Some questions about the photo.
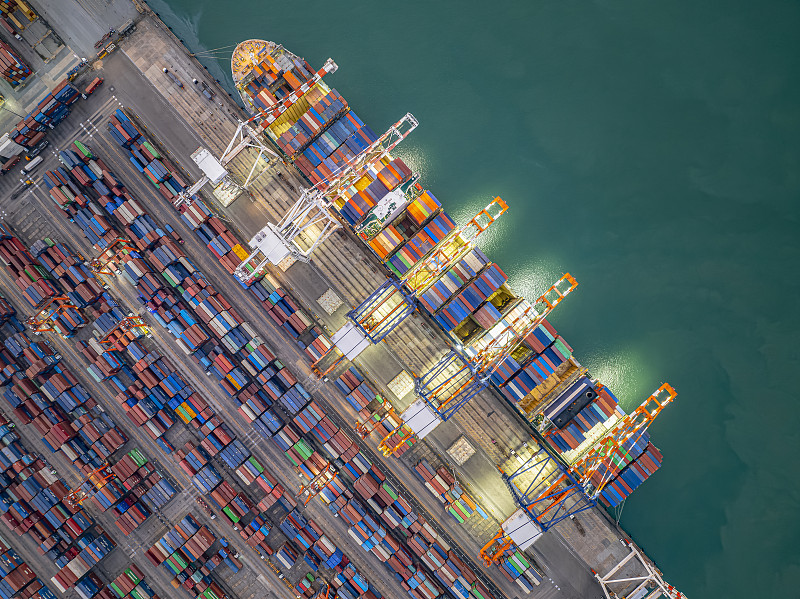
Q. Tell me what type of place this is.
port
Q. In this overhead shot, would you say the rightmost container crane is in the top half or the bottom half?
bottom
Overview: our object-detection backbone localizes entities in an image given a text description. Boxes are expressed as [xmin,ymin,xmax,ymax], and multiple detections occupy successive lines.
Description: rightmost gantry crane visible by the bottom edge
[591,540,698,599]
